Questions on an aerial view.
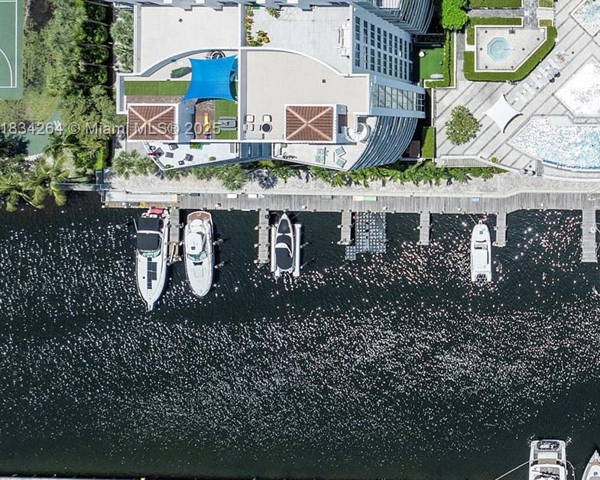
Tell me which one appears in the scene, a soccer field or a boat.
boat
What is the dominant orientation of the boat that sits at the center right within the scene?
from top to bottom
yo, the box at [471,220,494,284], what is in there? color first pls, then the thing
white boat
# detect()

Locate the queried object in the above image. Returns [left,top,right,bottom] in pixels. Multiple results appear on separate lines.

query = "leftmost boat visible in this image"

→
[136,210,171,313]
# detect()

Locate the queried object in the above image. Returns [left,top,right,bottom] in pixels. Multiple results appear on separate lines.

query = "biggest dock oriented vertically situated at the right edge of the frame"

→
[581,213,599,263]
